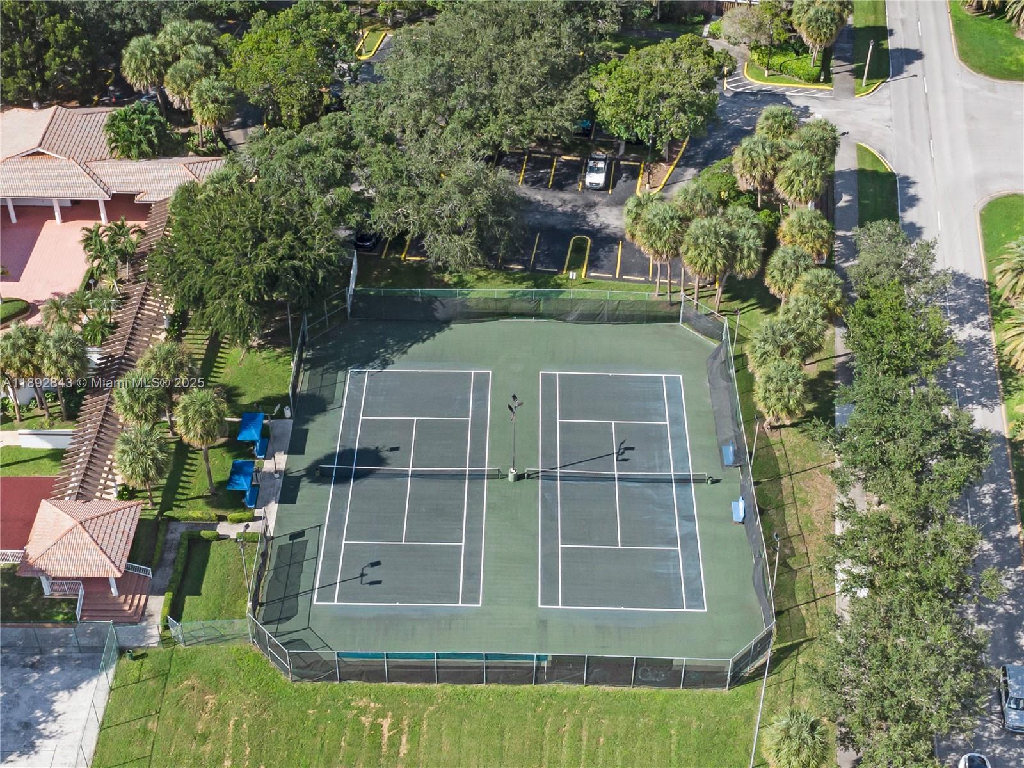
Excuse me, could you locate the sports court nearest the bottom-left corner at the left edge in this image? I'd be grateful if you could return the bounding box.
[0,617,120,768]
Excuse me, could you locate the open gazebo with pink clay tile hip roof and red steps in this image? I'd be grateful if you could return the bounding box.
[13,498,150,617]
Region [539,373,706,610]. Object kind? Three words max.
tennis court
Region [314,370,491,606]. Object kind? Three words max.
tennis court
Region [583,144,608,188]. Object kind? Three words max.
truck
